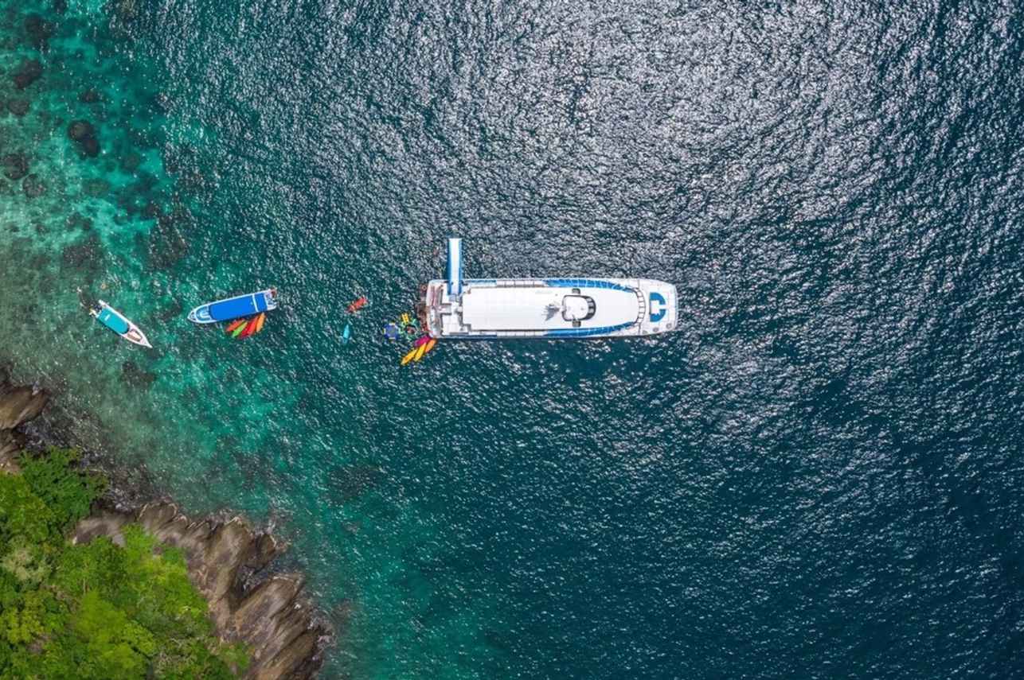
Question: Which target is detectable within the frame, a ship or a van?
ship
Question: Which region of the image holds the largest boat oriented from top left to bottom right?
left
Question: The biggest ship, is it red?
No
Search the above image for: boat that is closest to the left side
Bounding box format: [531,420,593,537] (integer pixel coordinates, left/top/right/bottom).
[91,297,155,349]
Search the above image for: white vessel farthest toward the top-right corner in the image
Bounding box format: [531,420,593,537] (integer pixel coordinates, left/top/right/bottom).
[418,278,679,338]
